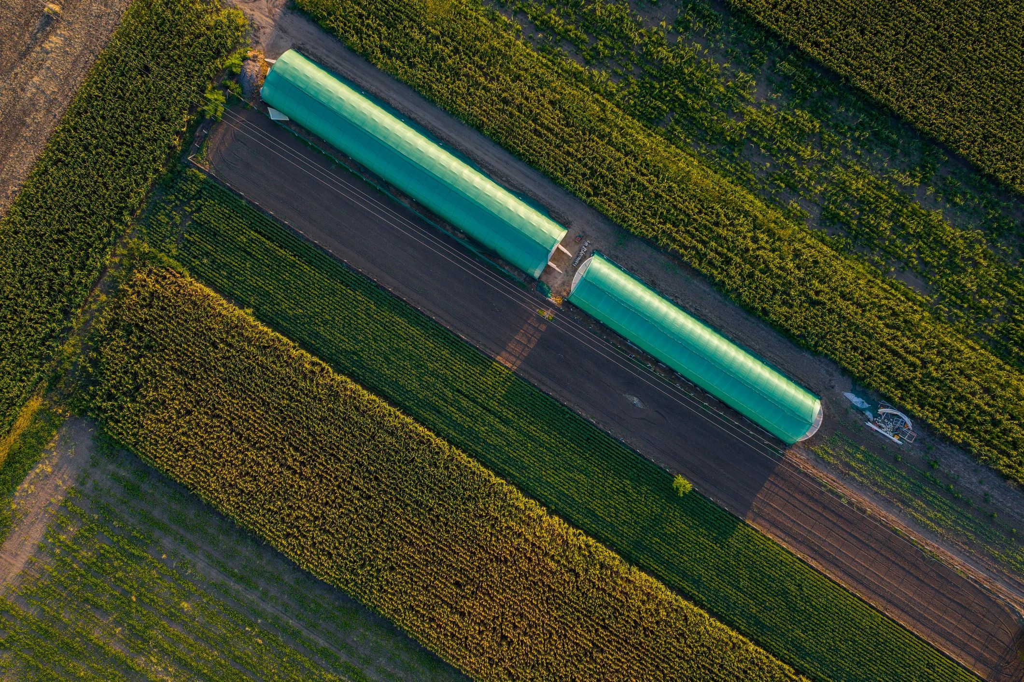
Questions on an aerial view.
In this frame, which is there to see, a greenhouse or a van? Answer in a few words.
greenhouse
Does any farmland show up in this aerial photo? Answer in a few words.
Yes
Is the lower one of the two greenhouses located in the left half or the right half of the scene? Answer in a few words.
right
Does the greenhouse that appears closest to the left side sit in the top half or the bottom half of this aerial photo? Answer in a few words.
top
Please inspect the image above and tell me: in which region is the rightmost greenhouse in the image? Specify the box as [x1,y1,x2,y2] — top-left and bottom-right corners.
[562,252,823,446]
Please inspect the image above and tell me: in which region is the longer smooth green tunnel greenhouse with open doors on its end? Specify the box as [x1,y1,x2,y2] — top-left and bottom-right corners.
[258,50,568,278]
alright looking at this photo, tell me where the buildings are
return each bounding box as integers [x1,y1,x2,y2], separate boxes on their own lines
[258,50,568,278]
[562,252,823,446]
